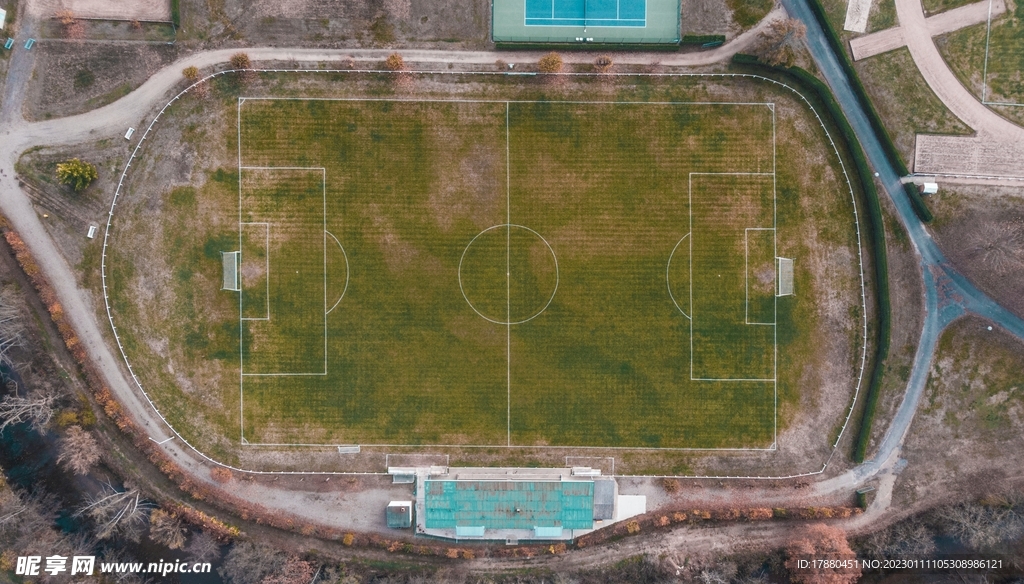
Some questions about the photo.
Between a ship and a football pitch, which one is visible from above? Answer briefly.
football pitch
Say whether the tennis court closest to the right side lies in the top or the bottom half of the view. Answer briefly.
top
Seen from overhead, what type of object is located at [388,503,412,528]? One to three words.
shed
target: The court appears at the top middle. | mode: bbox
[493,0,678,44]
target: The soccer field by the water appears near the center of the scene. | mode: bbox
[239,98,776,470]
